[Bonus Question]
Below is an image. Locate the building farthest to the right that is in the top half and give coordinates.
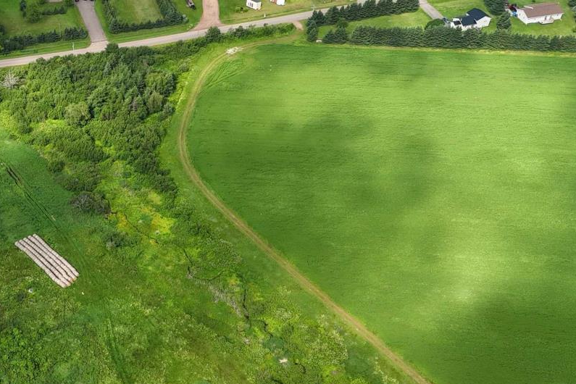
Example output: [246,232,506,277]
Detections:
[507,1,566,24]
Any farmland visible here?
Yes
